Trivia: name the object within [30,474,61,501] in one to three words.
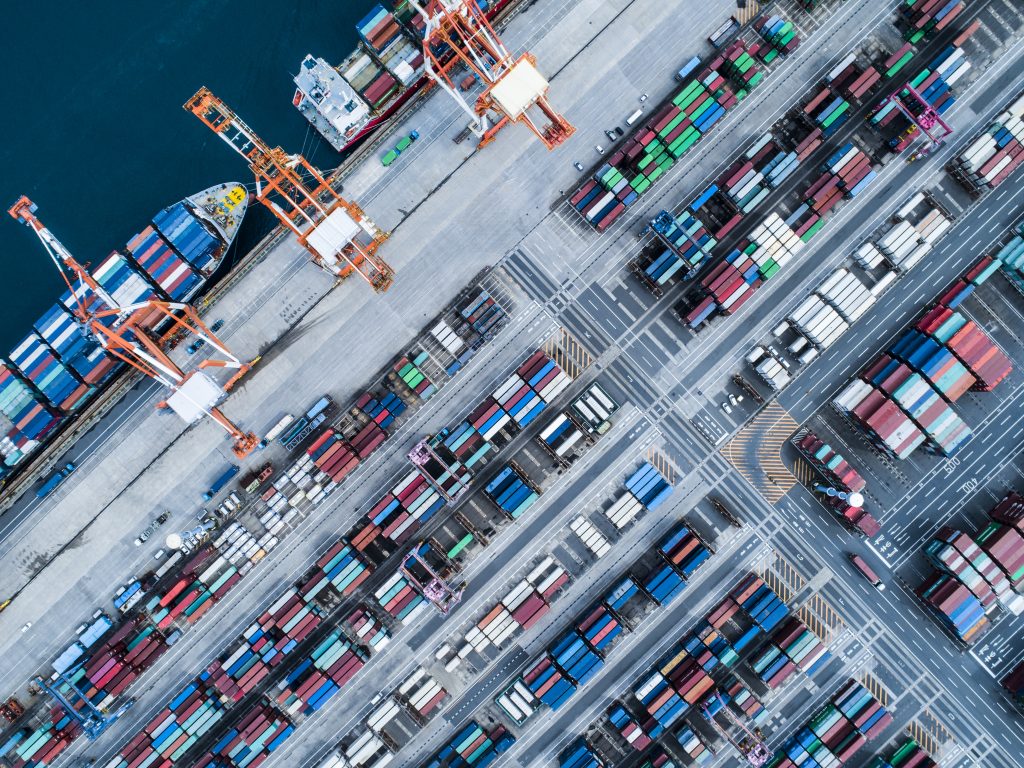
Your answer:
shipping container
